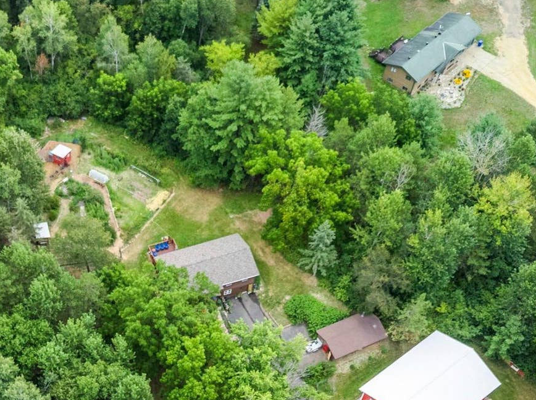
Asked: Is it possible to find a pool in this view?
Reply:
No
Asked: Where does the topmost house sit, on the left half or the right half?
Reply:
right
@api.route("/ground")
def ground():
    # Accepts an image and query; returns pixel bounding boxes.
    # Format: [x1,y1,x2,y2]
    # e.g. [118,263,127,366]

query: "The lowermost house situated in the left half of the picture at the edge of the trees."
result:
[147,233,262,311]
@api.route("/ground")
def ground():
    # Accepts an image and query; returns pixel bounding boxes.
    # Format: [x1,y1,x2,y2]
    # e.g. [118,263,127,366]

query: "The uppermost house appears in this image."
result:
[369,13,483,87]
